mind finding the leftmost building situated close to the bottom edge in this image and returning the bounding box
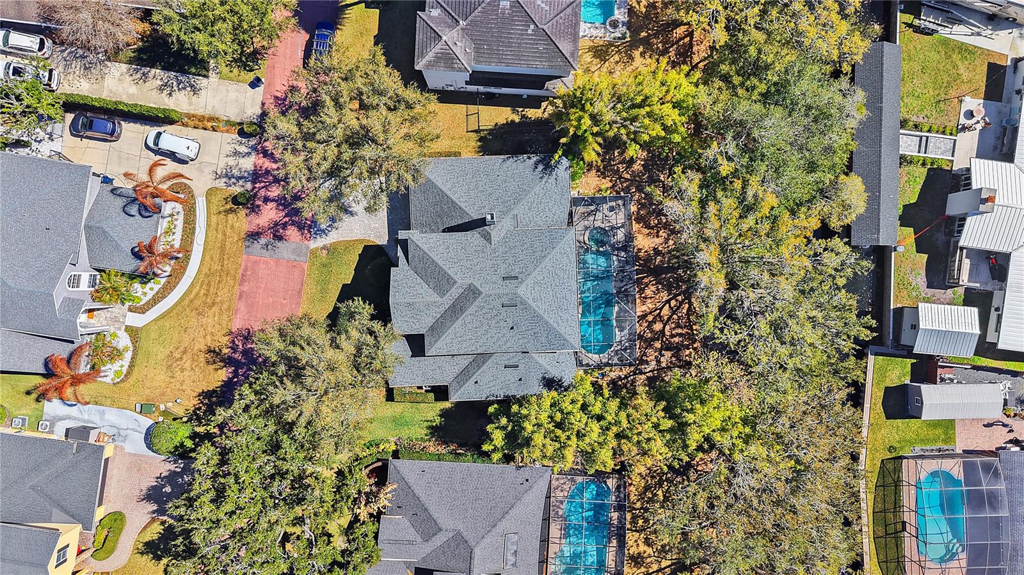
[0,431,116,575]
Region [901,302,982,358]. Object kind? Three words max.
shed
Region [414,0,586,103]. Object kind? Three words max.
house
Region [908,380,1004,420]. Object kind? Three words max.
shed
